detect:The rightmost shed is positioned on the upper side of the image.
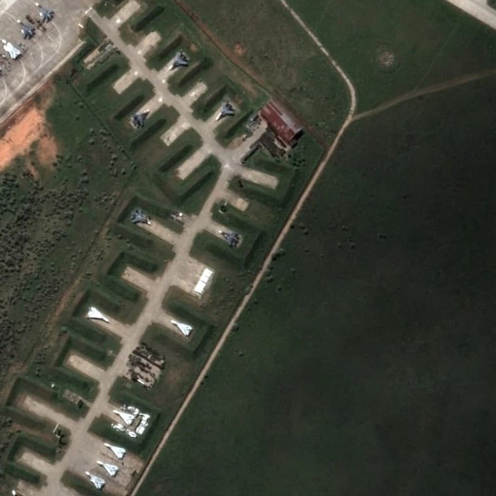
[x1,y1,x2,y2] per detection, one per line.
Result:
[259,99,306,146]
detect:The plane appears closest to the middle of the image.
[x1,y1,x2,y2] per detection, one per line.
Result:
[219,231,241,246]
